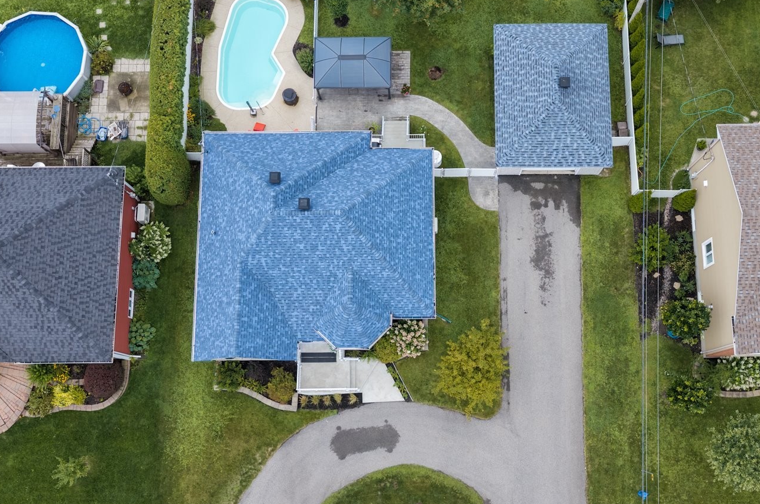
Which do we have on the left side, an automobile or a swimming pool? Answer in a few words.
swimming pool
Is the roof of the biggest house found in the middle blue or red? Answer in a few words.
blue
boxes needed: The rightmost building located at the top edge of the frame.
[493,22,615,177]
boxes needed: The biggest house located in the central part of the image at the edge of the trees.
[191,130,438,362]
